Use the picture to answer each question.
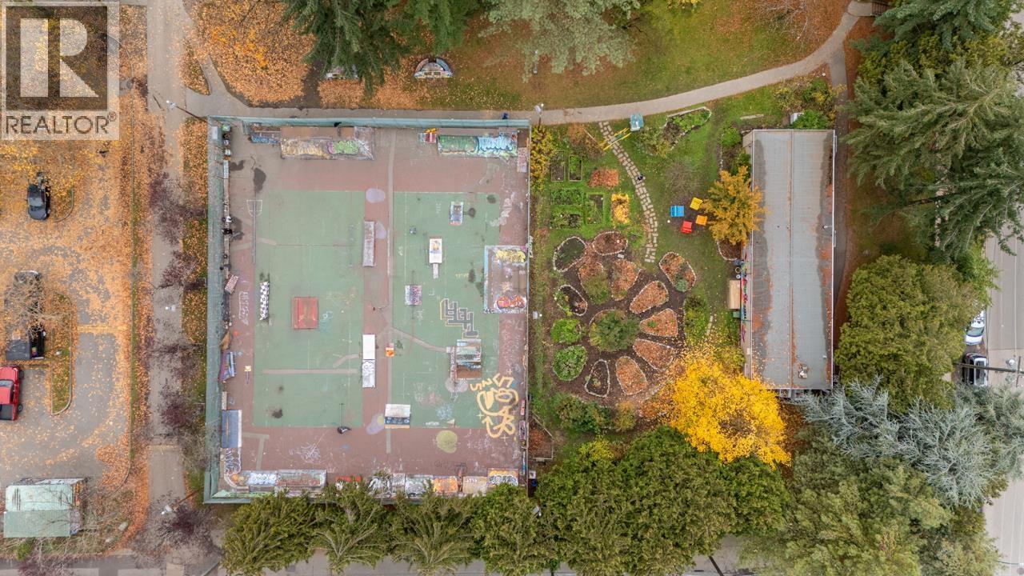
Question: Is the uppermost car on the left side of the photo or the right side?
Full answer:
The uppermost car appears in the left half of the scene.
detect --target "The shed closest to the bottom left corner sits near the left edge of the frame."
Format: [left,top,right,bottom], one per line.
[2,481,85,538]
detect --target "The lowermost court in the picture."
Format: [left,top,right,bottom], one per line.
[222,127,528,490]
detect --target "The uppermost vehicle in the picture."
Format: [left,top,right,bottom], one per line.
[21,173,49,220]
